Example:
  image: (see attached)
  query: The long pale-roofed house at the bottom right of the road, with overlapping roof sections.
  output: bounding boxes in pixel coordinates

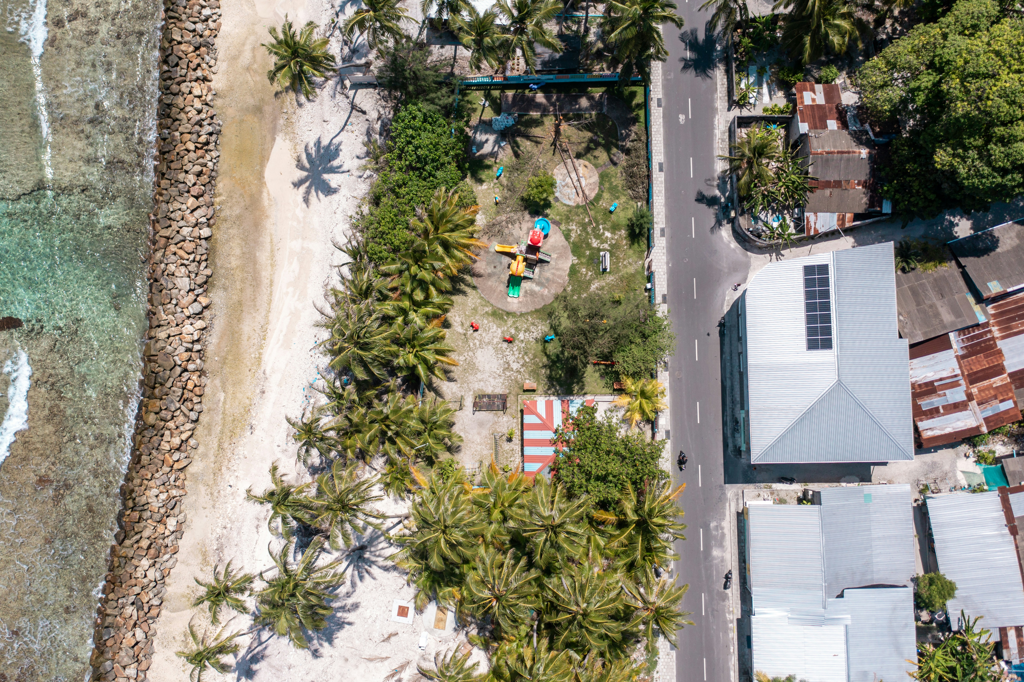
[742,484,918,682]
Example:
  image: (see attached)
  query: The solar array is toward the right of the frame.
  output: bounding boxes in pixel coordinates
[803,264,833,350]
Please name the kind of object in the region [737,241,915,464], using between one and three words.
house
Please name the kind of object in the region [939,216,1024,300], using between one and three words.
house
